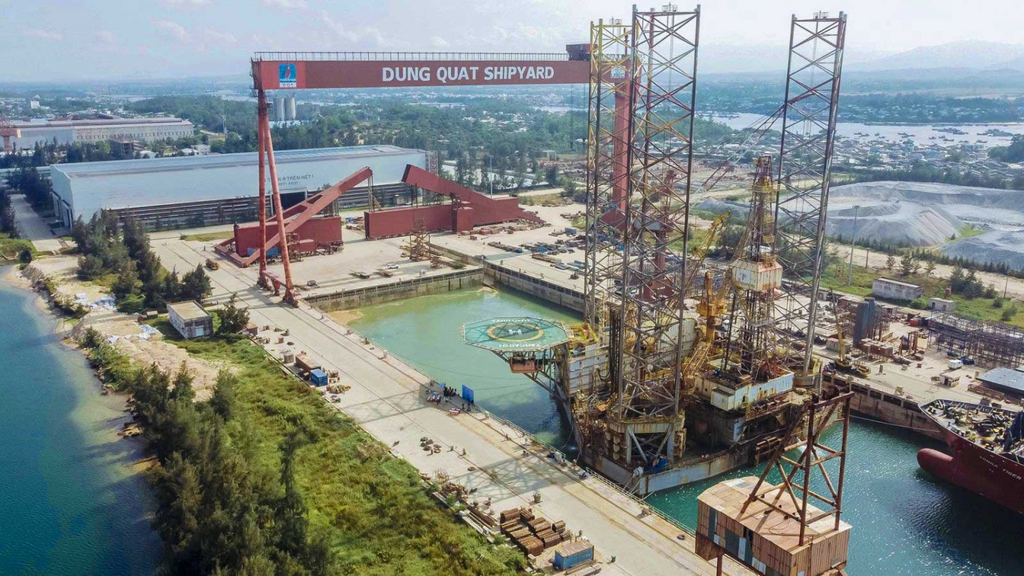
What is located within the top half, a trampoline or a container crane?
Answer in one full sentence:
The one visible within the top half is a container crane.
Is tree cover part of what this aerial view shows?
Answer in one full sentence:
Yes, tree cover can be seen from above here.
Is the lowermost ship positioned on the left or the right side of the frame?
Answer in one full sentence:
The lowermost ship is on the right side of the image.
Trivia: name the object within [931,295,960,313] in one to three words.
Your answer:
shed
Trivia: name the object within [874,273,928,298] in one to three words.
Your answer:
building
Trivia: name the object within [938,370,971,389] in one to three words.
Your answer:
shed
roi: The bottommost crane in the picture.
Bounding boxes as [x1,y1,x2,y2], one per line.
[692,372,862,576]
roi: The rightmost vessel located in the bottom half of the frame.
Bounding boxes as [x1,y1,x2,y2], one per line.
[855,400,1024,518]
